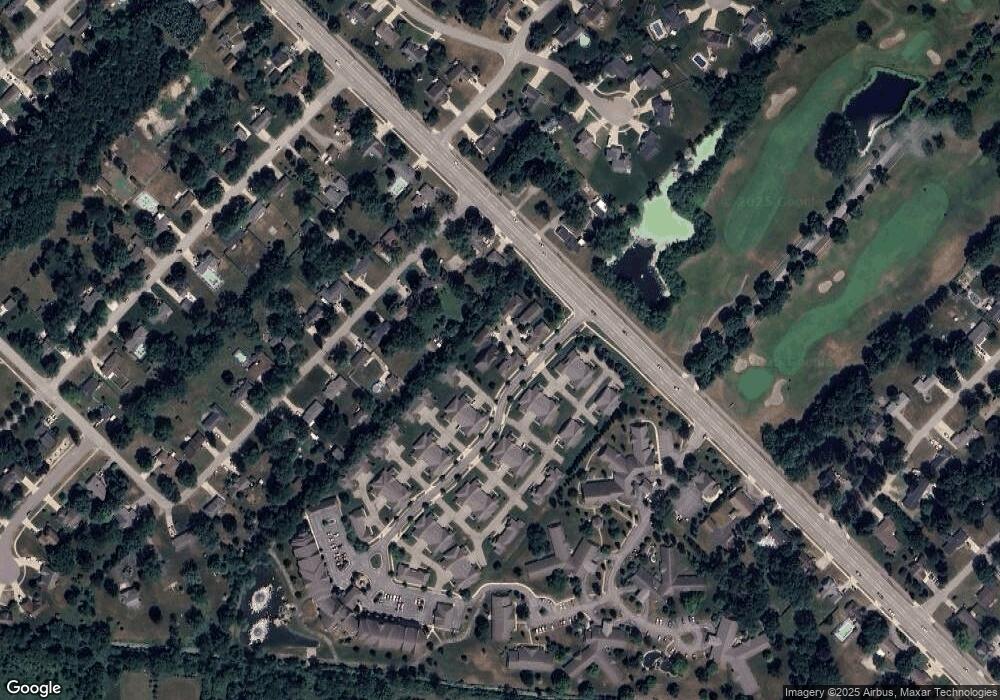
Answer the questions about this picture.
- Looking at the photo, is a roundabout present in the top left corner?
No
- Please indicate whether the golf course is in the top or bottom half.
top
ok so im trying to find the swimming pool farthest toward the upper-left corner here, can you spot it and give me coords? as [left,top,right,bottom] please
[135,190,159,213]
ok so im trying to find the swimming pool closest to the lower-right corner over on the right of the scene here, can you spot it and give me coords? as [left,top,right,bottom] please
[834,619,856,641]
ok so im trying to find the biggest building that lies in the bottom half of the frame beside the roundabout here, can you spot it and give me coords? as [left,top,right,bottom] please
[289,531,368,634]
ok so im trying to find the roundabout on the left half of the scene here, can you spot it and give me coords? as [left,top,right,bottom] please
[357,544,394,578]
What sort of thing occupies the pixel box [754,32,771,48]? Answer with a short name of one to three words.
swimming pool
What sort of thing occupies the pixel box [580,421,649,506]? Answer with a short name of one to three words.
building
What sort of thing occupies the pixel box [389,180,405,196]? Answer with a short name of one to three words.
swimming pool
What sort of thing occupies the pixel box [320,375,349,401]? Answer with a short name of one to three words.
house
